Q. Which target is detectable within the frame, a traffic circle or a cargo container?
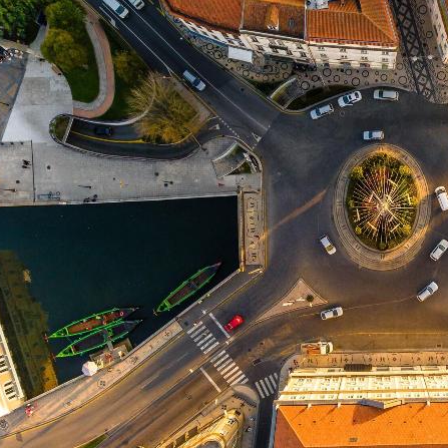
traffic circle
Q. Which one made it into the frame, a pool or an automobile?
automobile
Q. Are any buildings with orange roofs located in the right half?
Yes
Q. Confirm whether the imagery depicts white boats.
No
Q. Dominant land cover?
paved ground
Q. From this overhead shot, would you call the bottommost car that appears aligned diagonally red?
Yes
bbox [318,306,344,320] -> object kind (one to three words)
vehicle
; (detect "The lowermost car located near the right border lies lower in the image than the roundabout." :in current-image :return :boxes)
[415,281,439,303]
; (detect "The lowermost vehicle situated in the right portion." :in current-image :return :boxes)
[300,342,332,357]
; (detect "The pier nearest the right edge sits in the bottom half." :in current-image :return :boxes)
[89,340,134,366]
